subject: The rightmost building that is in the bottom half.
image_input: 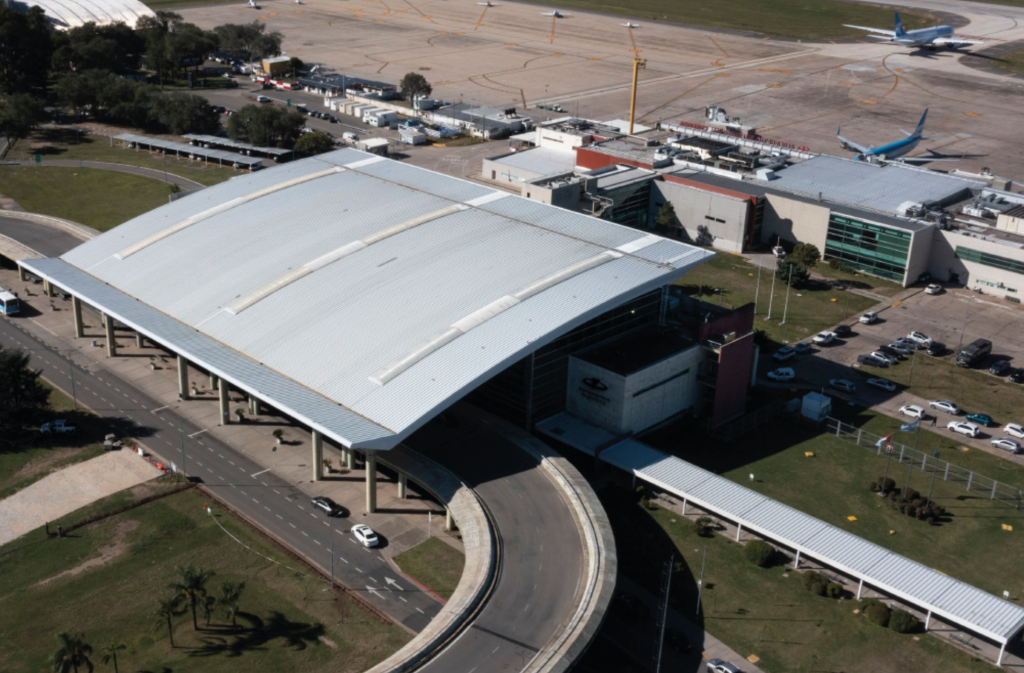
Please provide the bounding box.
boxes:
[805,387,834,422]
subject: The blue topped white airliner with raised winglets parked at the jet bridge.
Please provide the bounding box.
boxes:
[836,106,964,164]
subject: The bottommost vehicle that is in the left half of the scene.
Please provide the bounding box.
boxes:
[350,521,383,545]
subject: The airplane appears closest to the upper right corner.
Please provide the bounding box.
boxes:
[851,14,988,52]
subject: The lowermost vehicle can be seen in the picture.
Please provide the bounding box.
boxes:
[697,647,753,673]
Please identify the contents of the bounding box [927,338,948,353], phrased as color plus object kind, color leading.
black car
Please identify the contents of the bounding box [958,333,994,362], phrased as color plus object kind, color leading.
black vehicle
